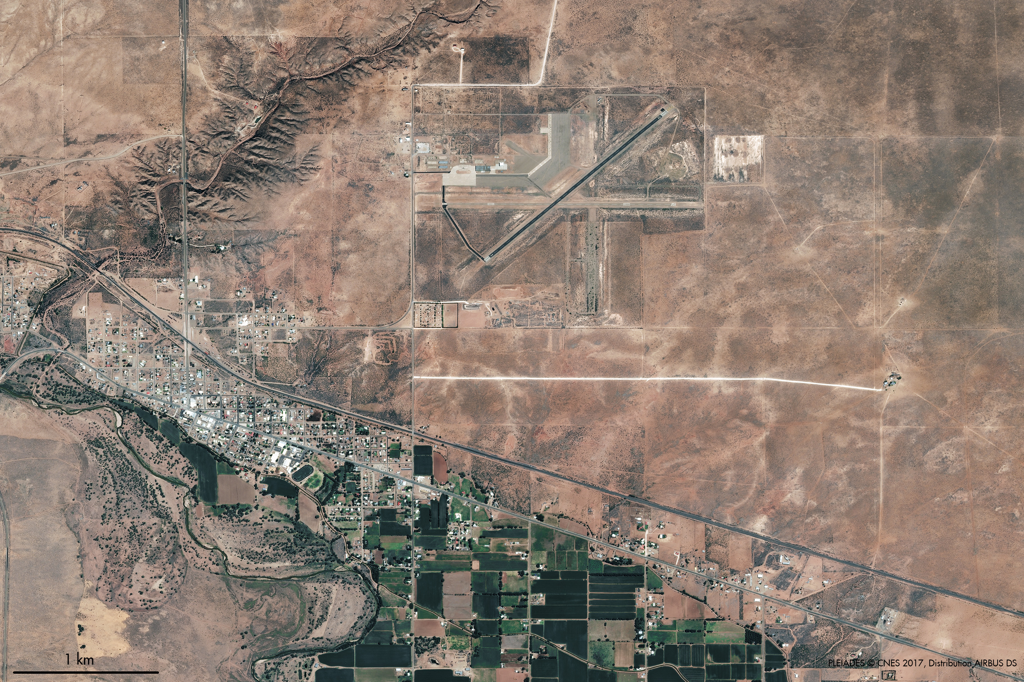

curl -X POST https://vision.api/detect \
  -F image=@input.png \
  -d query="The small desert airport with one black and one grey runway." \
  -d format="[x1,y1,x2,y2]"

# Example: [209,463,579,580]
[443,93,701,315]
